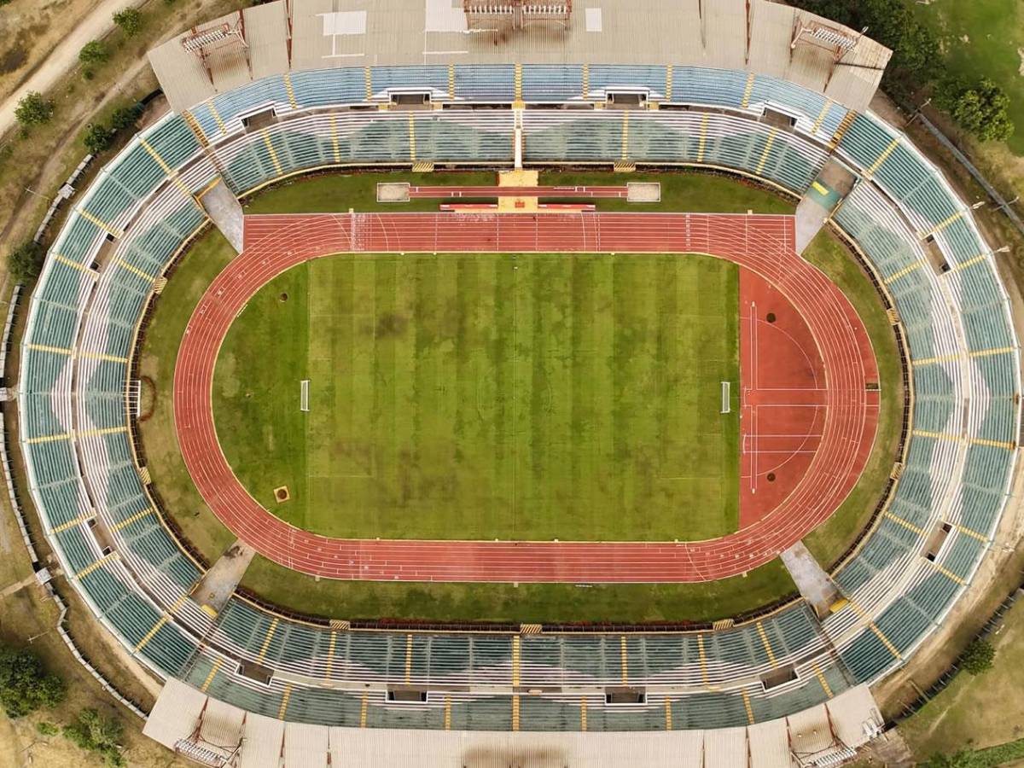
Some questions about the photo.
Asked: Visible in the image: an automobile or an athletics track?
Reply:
athletics track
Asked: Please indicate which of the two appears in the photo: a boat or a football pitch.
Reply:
football pitch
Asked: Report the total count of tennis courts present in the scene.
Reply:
0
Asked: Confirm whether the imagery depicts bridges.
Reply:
Yes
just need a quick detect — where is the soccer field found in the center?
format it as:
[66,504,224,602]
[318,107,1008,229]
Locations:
[212,253,739,541]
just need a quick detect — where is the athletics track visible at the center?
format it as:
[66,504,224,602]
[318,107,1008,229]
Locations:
[172,213,880,581]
